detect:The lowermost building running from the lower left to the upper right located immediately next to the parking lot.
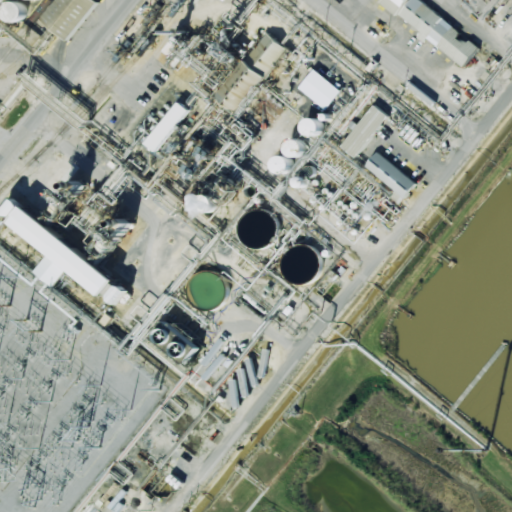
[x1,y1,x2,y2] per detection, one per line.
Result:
[144,102,194,151]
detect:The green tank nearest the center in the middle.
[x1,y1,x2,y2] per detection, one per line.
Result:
[186,269,231,310]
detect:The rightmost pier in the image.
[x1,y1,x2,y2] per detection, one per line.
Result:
[449,340,508,413]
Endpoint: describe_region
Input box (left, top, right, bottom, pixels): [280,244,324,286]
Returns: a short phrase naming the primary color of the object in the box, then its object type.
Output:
black storage tank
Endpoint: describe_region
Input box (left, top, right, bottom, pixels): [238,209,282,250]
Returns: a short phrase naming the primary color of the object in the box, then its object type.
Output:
black storage tank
